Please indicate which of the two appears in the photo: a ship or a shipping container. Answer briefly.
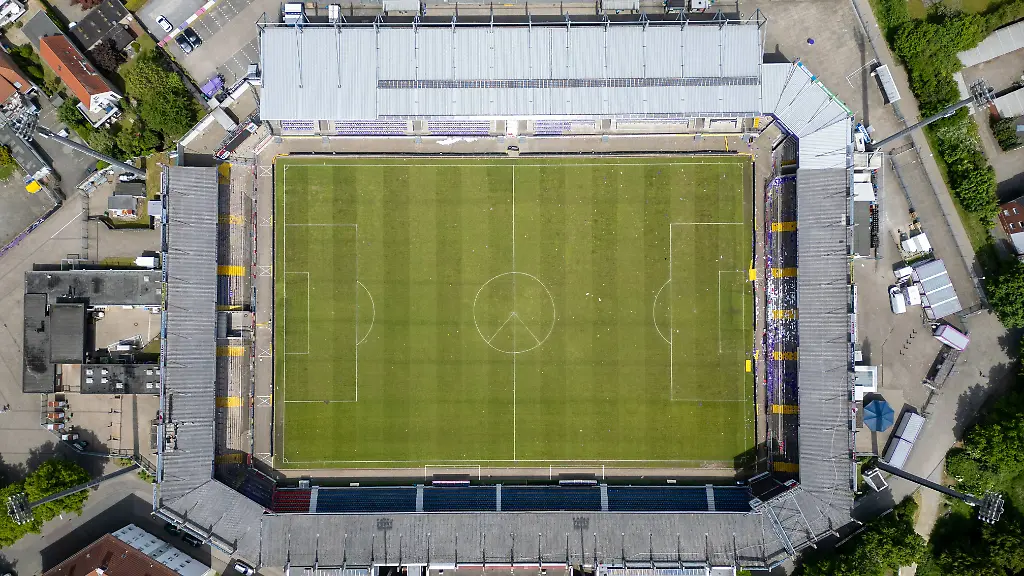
shipping container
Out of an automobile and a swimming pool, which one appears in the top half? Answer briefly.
automobile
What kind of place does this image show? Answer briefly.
sports ground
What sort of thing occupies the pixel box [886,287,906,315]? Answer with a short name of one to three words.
vehicle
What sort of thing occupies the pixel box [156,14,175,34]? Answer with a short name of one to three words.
car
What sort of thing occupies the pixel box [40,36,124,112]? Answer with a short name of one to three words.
house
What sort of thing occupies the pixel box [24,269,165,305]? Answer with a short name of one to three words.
building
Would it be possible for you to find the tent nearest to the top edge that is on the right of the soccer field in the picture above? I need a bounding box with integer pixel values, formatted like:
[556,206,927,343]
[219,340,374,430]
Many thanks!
[909,260,962,320]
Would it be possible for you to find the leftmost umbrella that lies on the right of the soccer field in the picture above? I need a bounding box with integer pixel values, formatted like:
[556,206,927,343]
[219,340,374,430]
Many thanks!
[861,401,893,432]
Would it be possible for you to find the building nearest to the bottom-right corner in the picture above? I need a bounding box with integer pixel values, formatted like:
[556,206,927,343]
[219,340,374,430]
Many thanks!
[859,466,888,491]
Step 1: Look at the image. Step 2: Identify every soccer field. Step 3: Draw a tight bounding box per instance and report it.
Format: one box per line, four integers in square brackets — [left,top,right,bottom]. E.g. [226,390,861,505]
[274,156,753,469]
